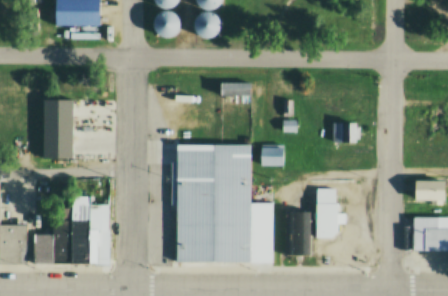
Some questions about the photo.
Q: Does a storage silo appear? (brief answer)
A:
Yes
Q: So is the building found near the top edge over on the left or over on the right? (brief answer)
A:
left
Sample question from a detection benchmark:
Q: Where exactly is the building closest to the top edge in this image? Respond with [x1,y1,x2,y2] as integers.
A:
[55,0,100,26]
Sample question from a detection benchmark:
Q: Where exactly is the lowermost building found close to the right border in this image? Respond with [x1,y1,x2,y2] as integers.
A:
[414,230,448,252]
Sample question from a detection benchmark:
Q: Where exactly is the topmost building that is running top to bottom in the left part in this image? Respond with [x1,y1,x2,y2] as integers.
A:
[43,100,72,159]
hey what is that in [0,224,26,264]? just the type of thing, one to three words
building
